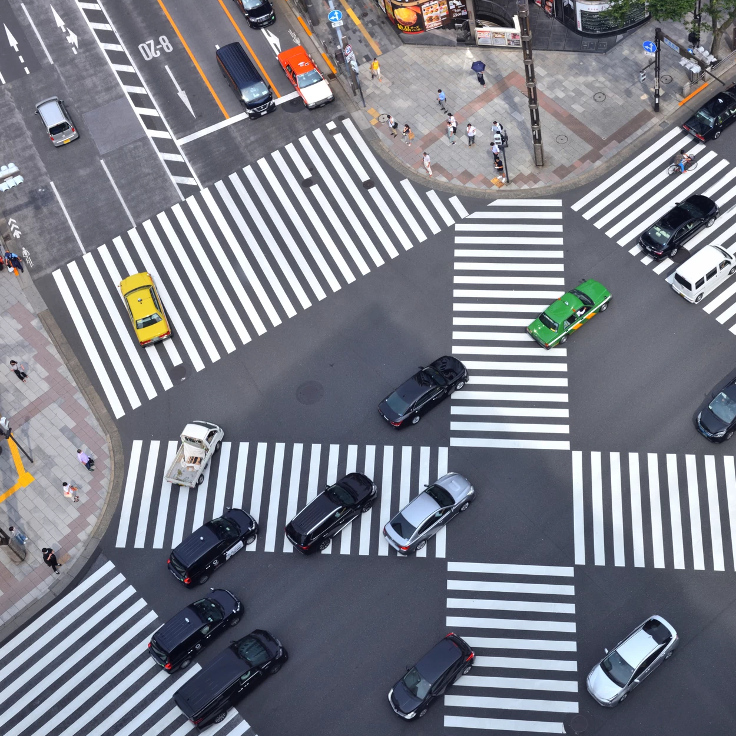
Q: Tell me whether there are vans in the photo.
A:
Yes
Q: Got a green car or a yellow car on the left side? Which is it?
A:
yellow car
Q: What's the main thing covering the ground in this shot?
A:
paved ground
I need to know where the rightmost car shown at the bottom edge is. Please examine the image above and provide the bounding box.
[589,615,680,708]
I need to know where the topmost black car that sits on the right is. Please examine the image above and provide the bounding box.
[684,86,736,144]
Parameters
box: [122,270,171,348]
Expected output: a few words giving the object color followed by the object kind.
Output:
yellow car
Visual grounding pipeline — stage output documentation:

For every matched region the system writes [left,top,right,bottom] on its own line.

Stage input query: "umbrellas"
[471,59,489,71]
